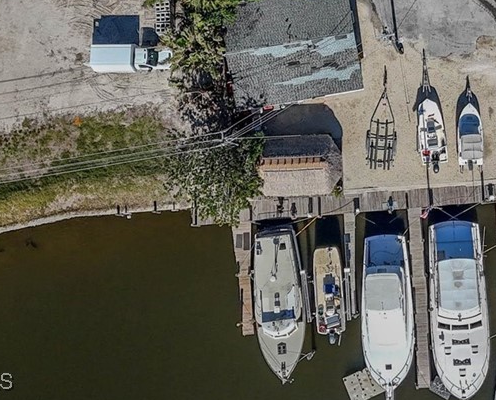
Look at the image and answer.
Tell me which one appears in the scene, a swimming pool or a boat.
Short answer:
boat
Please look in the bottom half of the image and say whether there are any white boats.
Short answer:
Yes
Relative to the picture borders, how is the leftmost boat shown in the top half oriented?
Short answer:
from top to bottom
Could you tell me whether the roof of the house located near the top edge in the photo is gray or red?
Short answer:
gray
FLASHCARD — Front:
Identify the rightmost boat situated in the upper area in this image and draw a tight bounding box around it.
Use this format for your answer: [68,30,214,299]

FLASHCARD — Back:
[457,101,483,170]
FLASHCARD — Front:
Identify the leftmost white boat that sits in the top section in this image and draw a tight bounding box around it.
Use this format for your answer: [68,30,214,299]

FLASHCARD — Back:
[416,99,446,177]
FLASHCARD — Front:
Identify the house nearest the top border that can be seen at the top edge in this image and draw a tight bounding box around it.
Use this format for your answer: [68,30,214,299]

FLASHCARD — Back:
[222,0,365,113]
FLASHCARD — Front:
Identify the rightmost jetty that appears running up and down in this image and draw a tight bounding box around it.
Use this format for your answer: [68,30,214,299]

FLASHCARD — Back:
[405,210,433,388]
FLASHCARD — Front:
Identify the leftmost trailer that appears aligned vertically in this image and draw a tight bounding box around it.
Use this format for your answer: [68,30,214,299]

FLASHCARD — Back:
[367,68,397,169]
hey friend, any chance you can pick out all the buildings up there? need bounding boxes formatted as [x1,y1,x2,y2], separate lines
[222,0,365,113]
[253,134,344,198]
